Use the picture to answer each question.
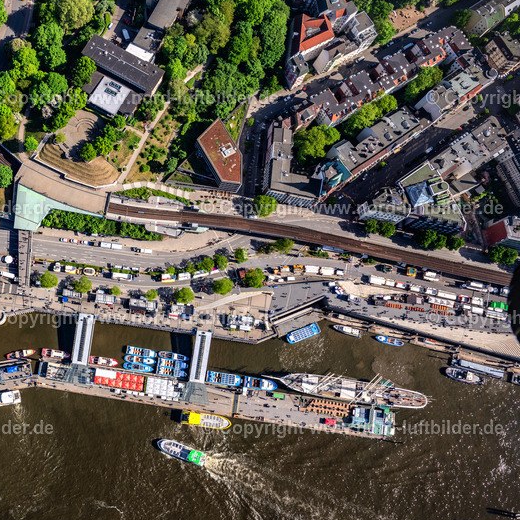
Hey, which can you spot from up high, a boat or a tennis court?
boat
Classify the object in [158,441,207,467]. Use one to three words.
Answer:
ship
